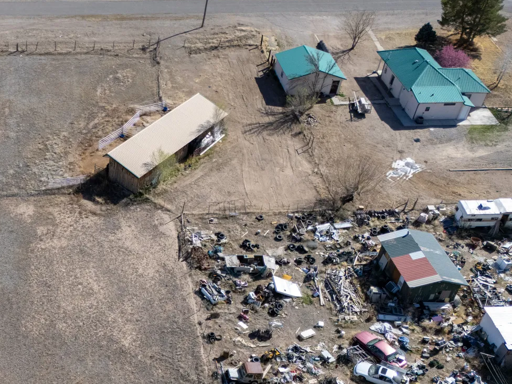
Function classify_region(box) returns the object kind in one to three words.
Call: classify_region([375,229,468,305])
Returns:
shed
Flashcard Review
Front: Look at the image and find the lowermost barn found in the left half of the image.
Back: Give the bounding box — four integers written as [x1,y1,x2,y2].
[105,98,230,193]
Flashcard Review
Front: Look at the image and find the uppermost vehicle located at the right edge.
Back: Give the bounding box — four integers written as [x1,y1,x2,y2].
[449,198,512,235]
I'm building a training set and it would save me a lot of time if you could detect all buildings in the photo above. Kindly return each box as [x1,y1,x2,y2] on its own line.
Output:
[270,41,346,97]
[479,304,512,357]
[375,229,468,305]
[105,98,230,193]
[378,47,491,121]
